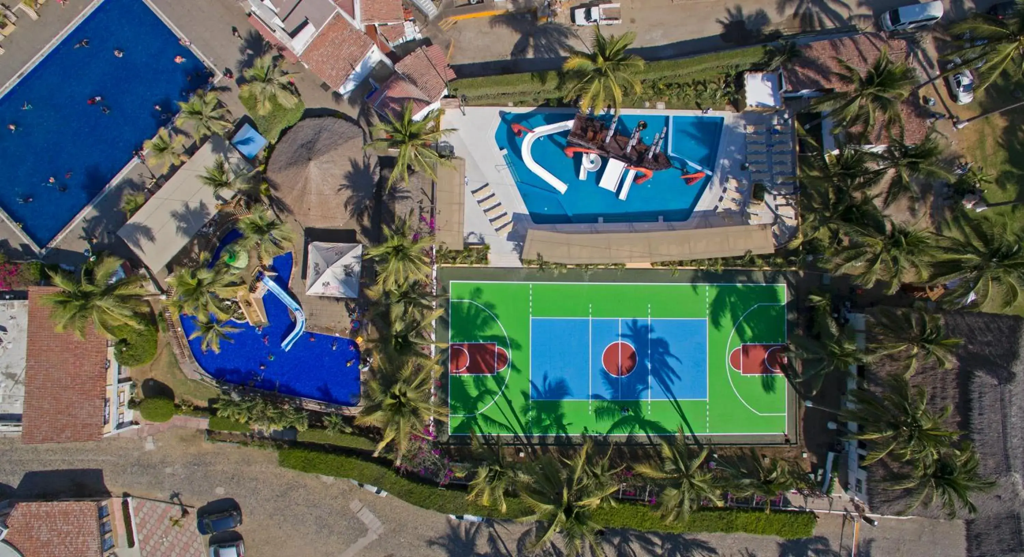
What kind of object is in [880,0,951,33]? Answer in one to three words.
van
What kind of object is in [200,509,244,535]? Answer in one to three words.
car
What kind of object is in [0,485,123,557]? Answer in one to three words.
house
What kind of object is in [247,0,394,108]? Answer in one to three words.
house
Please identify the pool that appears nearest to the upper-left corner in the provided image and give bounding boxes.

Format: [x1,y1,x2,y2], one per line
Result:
[0,0,222,258]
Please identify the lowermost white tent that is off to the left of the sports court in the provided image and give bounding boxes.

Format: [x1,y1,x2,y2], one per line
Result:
[306,243,363,297]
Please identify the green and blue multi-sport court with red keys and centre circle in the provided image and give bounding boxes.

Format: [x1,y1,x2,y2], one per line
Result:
[435,267,797,445]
